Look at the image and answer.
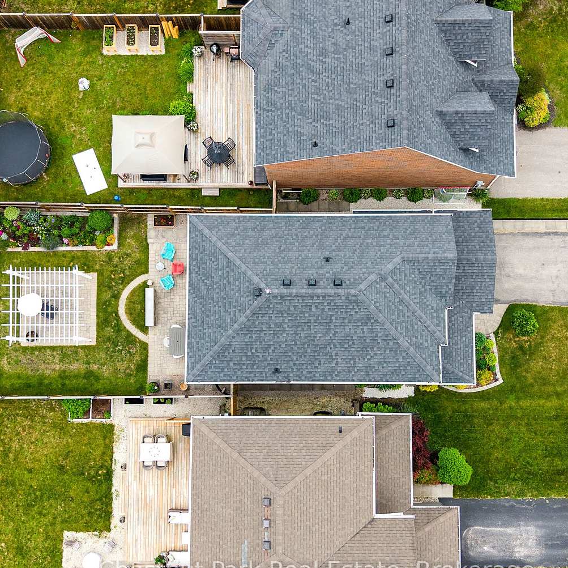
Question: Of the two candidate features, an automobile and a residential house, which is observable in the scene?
residential house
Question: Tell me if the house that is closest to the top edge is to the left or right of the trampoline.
to its right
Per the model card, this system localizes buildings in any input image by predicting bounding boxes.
[239,0,518,189]
[187,411,463,568]
[186,206,503,385]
